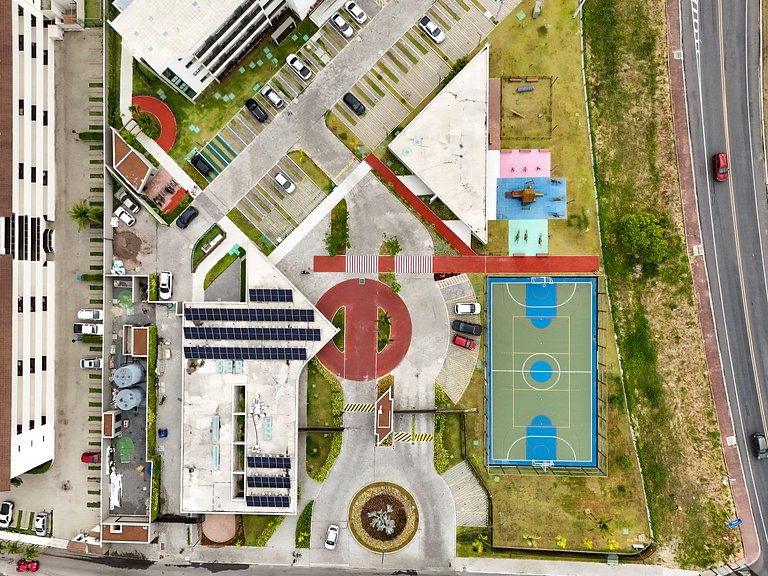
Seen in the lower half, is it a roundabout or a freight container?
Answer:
roundabout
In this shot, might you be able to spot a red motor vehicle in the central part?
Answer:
Yes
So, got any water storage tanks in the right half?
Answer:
No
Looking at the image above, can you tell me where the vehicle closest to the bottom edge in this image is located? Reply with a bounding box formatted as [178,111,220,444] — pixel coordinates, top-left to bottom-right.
[14,557,42,574]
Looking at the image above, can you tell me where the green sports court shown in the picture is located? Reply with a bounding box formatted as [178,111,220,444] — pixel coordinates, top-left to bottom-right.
[488,277,597,466]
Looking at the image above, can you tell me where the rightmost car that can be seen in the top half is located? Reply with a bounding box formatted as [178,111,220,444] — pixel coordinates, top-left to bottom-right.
[711,152,730,183]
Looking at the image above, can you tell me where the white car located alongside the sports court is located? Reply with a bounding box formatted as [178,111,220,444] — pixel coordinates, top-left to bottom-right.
[454,302,482,316]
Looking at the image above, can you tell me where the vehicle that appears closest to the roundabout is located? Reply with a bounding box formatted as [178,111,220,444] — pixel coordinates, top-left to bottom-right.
[324,522,340,551]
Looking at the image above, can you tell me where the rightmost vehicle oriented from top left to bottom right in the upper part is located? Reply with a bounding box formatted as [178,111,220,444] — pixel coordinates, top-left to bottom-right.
[417,14,446,44]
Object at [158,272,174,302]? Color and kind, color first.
white car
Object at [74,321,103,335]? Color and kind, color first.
white vehicle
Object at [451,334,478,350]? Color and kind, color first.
red car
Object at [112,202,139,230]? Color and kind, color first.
white car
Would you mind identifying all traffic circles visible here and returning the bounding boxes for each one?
[348,482,420,554]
